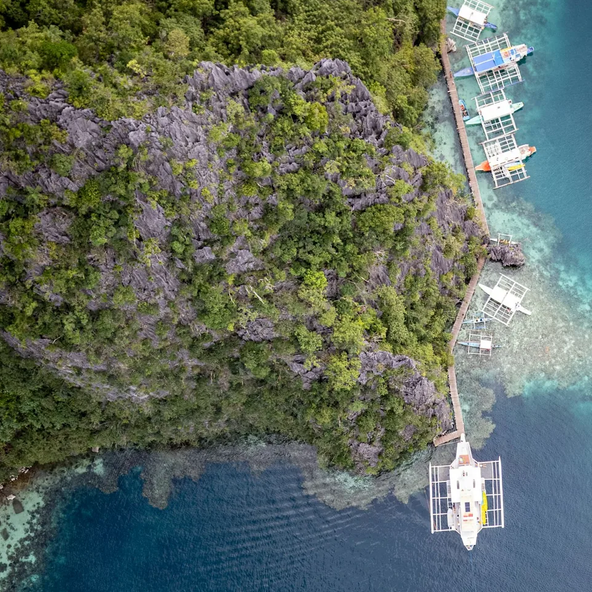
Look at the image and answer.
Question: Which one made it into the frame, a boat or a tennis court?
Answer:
boat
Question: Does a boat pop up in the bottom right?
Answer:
Yes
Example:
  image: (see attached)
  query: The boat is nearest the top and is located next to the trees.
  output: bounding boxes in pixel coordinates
[447,0,497,43]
